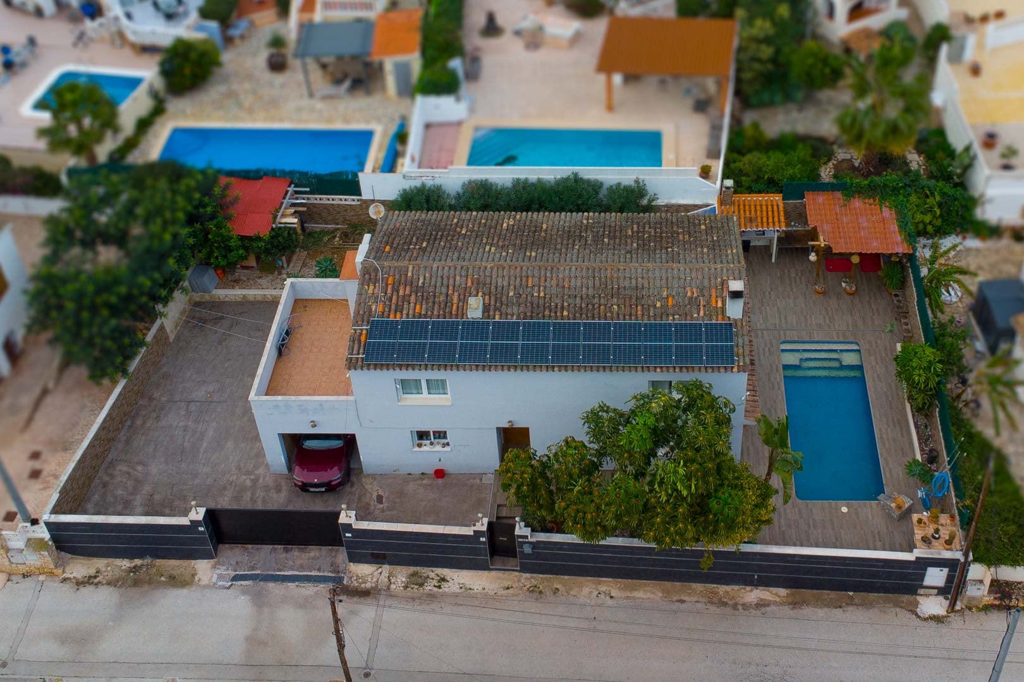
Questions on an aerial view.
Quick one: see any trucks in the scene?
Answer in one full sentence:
No, there's no truck here.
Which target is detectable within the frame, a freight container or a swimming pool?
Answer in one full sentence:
There is a swimming pool in the scene.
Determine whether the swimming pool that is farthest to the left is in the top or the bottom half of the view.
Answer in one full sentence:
The swimming pool that is farthest to the left is in the top half of the image.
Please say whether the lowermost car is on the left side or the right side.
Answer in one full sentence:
You can find the lowermost car on the left side of the picture.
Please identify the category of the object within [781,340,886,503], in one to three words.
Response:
swimming pool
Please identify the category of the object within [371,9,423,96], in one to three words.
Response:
shed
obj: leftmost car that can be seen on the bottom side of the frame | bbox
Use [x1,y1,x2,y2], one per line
[288,433,351,493]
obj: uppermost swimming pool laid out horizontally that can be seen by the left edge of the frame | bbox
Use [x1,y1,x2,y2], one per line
[27,70,139,111]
